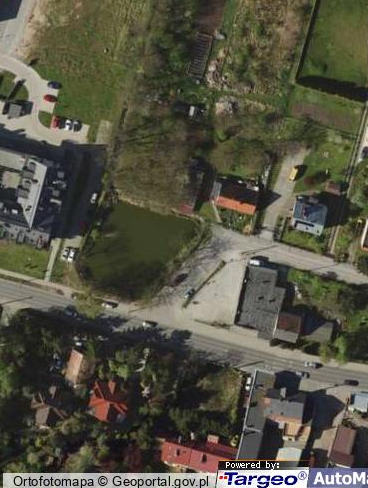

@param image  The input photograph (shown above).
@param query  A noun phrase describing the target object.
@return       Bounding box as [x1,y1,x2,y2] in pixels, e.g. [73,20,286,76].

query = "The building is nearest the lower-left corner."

[31,392,65,424]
